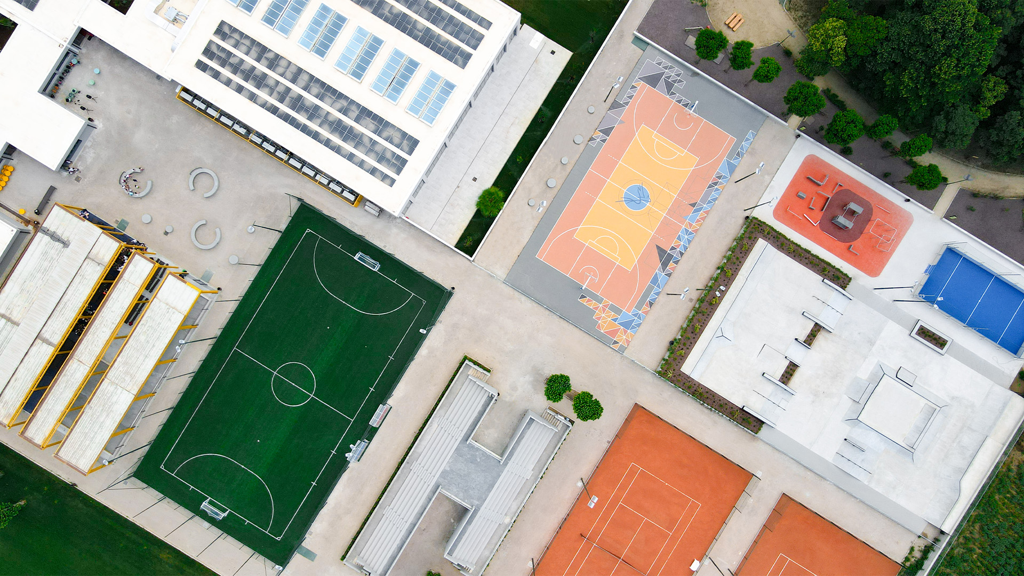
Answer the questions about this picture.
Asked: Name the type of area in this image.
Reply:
sports ground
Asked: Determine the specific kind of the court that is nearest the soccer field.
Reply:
basketball court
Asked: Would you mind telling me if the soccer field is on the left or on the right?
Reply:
left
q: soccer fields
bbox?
[133,203,453,571]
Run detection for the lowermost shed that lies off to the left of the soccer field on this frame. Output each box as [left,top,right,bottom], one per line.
[0,215,30,283]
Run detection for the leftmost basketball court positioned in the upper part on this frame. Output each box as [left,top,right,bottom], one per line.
[505,47,766,351]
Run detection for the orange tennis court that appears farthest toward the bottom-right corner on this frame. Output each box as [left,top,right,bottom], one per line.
[733,494,902,576]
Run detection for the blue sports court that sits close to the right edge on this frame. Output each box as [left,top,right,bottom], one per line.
[912,243,1024,365]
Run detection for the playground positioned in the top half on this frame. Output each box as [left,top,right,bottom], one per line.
[771,153,914,280]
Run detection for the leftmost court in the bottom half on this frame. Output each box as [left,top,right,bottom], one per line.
[533,404,754,576]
